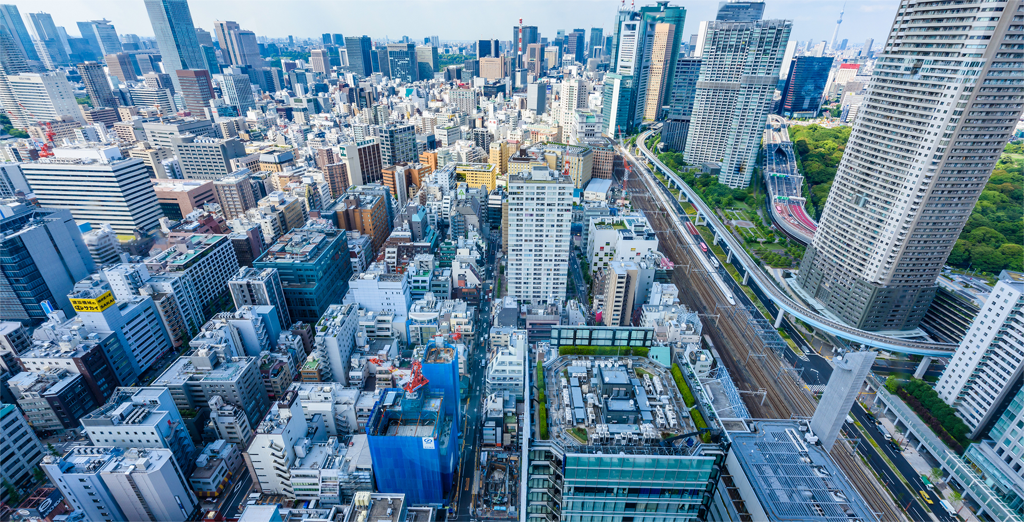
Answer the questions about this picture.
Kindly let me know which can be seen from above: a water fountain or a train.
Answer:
train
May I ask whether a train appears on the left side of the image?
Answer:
No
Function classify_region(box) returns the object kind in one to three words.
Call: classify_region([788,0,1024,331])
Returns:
building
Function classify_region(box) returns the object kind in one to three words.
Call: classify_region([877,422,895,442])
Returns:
vehicle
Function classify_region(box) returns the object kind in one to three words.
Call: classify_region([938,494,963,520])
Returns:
truck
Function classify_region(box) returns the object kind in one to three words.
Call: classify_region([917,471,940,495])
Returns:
truck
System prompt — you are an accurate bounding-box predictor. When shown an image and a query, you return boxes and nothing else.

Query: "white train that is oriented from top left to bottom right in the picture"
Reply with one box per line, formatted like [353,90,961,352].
[633,156,736,305]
